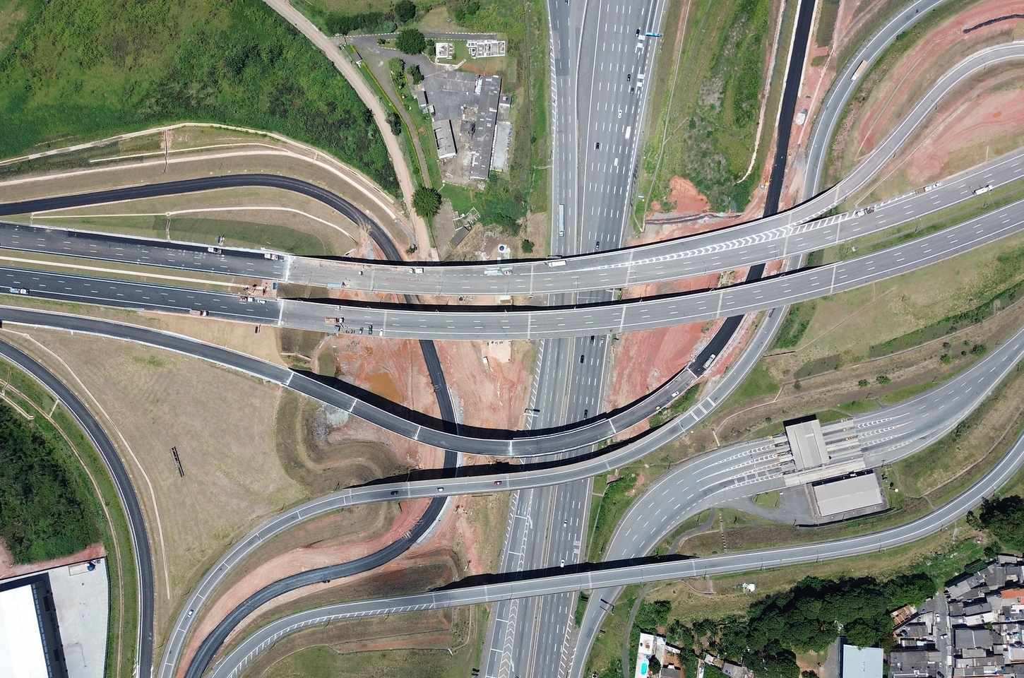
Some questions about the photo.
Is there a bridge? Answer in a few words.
Yes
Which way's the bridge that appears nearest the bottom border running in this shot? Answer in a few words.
from side to side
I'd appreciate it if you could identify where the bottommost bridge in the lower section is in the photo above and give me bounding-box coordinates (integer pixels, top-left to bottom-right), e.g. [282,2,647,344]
[430,558,696,610]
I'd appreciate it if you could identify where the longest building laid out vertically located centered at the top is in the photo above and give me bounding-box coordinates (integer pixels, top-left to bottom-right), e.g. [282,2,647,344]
[470,75,501,179]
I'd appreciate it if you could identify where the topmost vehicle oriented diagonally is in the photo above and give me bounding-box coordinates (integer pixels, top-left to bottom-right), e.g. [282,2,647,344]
[851,58,870,79]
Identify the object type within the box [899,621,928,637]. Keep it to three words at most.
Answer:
house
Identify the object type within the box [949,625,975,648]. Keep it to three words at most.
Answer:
house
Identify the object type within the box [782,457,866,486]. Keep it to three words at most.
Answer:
building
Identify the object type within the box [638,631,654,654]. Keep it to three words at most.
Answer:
building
